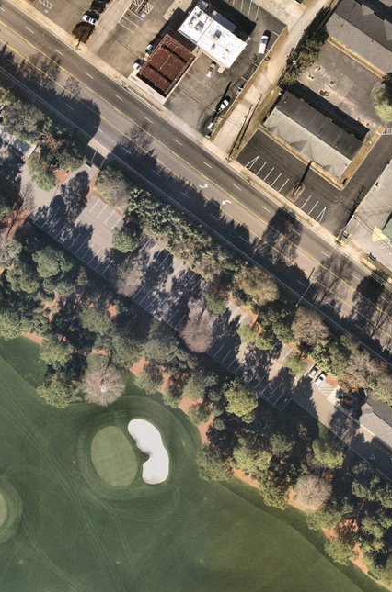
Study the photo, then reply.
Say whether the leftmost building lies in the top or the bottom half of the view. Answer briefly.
top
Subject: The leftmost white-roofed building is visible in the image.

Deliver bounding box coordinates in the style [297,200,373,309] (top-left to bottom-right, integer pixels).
[179,0,260,68]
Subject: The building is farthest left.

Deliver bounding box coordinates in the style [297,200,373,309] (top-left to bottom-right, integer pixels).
[140,33,195,91]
